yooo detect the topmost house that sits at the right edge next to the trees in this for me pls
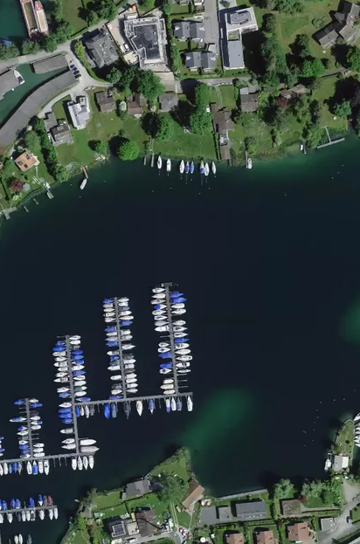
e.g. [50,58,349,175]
[313,0,360,49]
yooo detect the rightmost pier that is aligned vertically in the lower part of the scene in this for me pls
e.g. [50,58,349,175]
[158,284,182,394]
